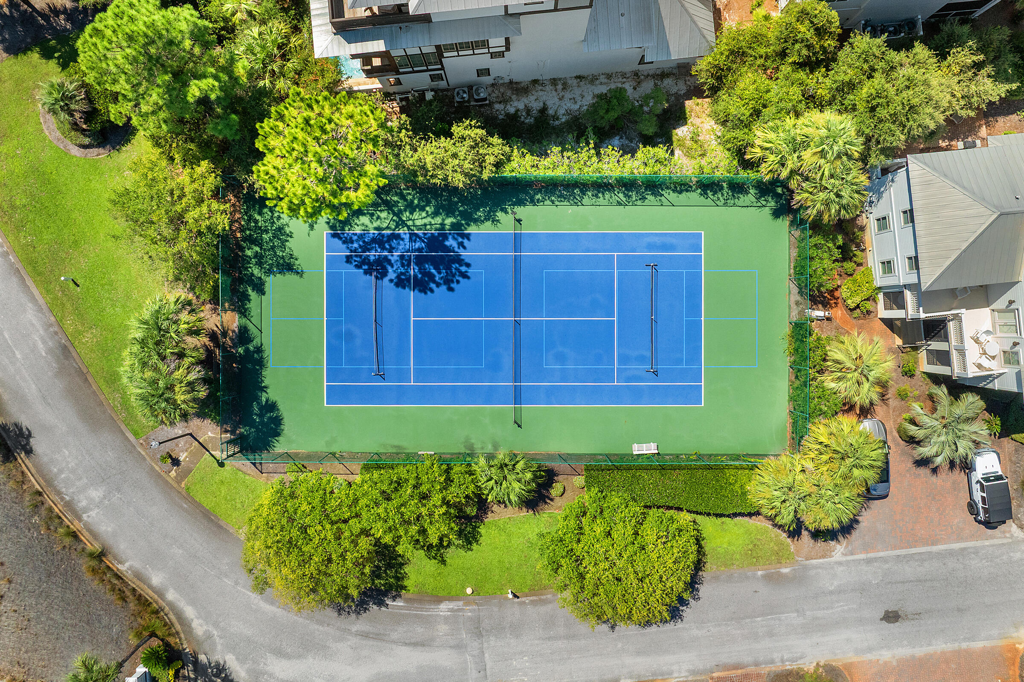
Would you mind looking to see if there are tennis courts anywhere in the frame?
Yes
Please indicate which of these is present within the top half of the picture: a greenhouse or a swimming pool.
swimming pool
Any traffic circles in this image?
No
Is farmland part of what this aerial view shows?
No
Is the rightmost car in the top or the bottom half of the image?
bottom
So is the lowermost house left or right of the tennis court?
on its right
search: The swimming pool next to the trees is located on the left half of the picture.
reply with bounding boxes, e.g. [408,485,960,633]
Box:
[301,9,380,98]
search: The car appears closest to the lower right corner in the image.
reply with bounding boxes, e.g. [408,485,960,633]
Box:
[965,450,1017,528]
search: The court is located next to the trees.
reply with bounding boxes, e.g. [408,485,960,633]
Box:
[239,186,788,452]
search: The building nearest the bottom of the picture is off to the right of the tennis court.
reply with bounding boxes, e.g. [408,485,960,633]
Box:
[848,132,1024,383]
